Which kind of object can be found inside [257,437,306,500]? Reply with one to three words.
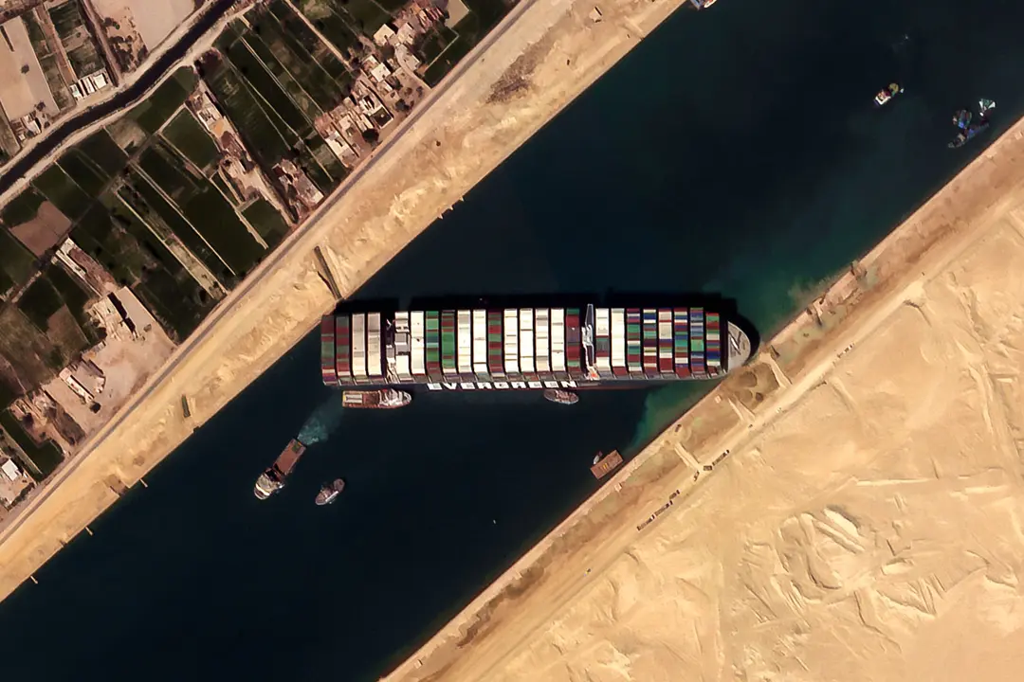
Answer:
vessel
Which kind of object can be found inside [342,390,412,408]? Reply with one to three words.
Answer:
vessel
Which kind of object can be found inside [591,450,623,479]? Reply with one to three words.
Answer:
ship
